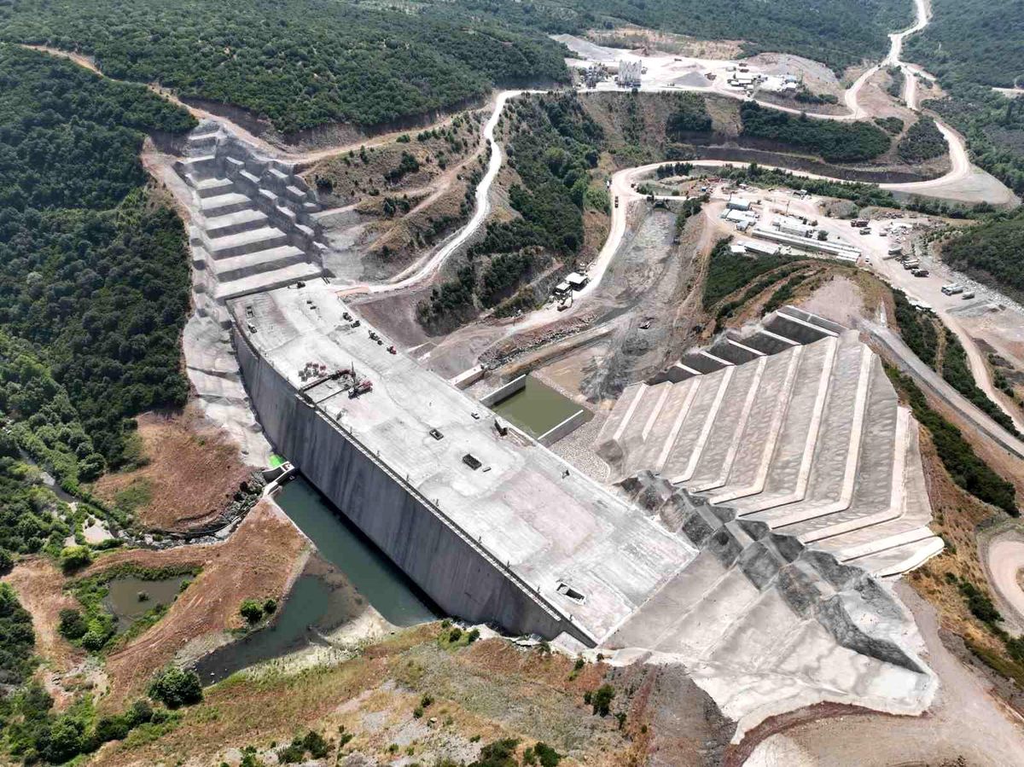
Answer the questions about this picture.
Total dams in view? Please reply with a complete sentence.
Only 1 dam is visible.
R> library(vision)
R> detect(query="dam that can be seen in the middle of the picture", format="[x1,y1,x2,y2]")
[224,277,697,648]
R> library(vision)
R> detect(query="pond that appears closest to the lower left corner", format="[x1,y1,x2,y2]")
[104,574,193,631]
